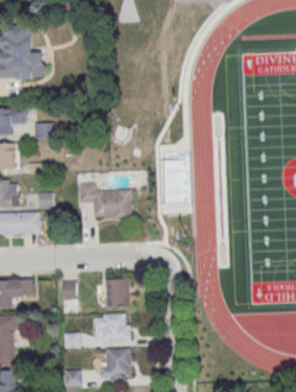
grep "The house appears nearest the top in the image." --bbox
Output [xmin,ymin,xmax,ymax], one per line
[0,27,47,83]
